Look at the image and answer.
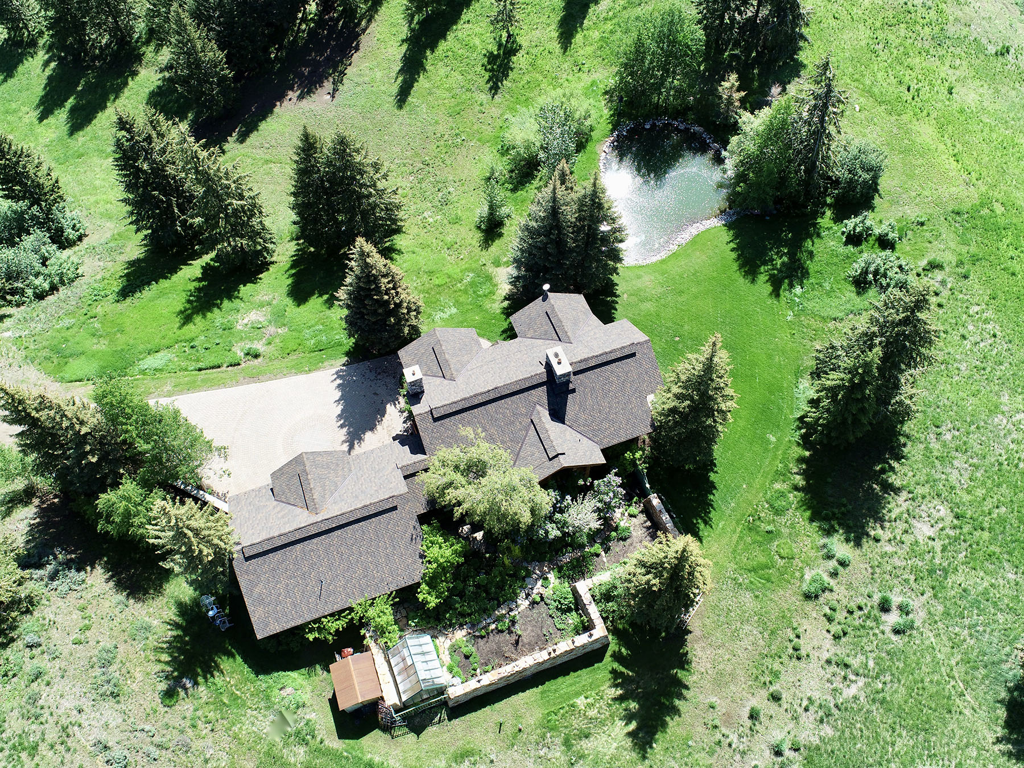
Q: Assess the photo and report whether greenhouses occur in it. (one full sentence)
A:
Yes, a greenhouse is visible in the scene.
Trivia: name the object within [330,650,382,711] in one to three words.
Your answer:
shed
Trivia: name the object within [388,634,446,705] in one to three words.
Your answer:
greenhouse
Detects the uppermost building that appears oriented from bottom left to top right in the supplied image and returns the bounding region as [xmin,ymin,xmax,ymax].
[232,294,666,640]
